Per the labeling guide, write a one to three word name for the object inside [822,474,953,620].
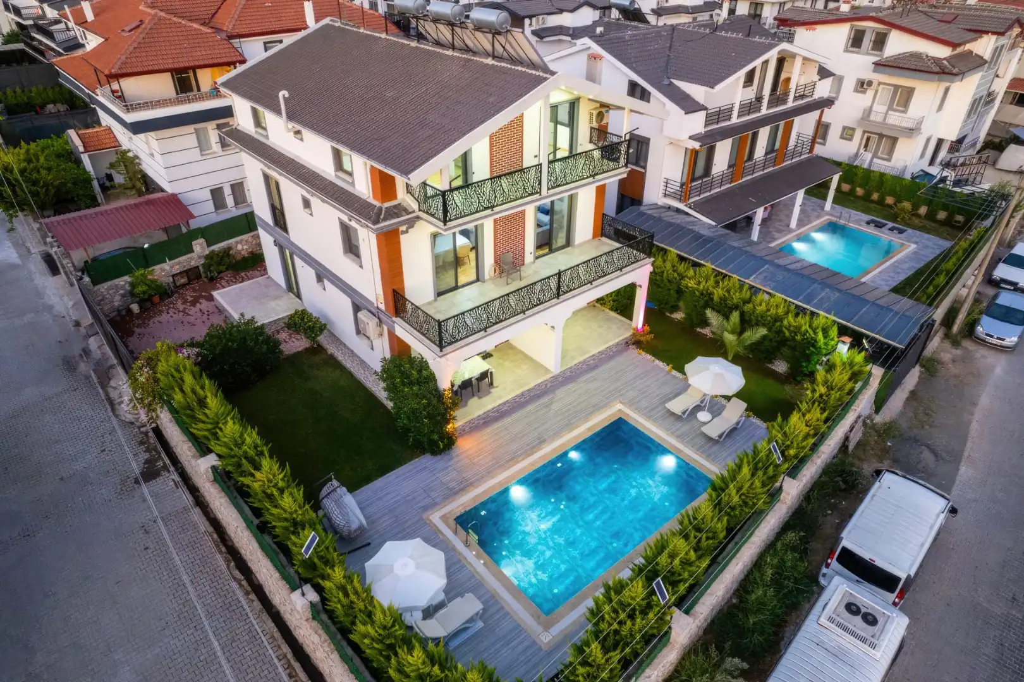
van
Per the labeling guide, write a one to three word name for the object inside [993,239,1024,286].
car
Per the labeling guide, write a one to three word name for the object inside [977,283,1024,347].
car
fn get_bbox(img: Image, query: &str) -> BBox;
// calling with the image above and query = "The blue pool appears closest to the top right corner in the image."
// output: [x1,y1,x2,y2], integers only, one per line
[765,216,923,283]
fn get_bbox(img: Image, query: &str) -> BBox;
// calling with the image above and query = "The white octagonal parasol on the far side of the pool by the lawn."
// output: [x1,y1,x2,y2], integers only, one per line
[681,357,745,421]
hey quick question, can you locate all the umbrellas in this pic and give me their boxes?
[681,357,745,421]
[358,537,449,627]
